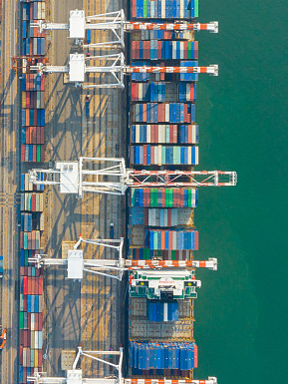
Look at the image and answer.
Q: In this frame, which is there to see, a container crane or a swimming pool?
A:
container crane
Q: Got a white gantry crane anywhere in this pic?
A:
Yes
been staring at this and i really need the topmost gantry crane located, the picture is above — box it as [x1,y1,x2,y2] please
[32,5,219,52]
